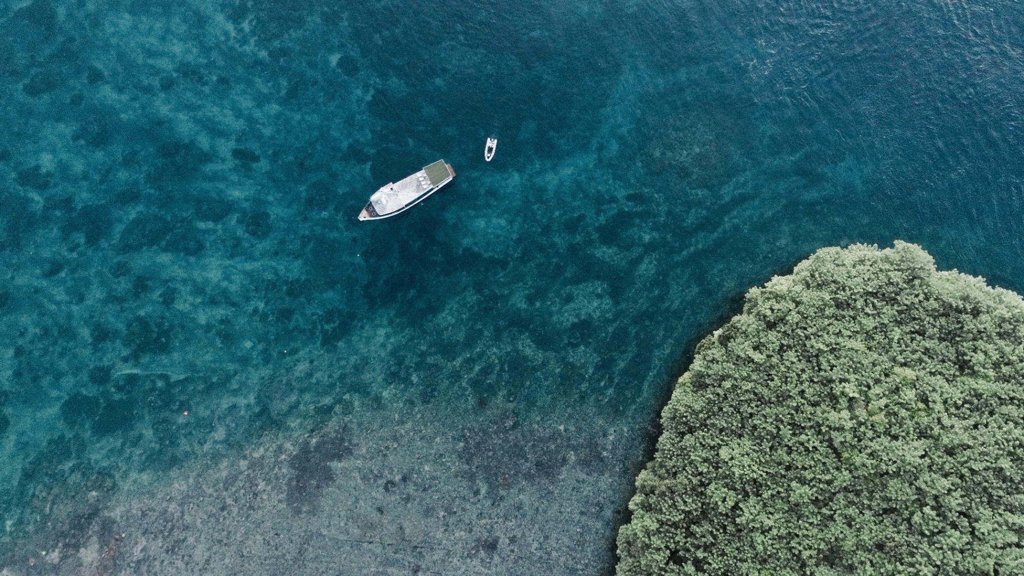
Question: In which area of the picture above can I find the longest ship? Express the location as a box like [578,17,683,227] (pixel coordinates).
[359,160,455,221]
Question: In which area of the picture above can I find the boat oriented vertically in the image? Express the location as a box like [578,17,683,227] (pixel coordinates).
[485,138,497,161]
